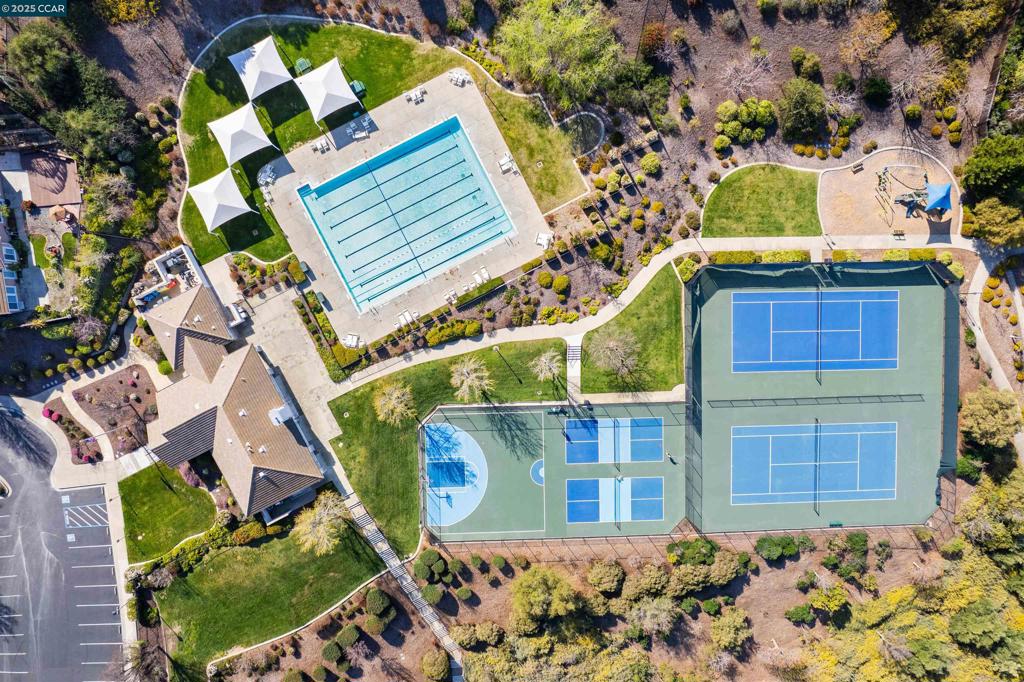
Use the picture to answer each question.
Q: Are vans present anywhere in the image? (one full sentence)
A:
No, there isn't any van down there.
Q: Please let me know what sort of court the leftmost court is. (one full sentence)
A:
The leftmost court in the image is a basketball court.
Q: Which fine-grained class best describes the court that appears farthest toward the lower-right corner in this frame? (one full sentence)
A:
The court that appears farthest toward the lower-right corner is a tennis court.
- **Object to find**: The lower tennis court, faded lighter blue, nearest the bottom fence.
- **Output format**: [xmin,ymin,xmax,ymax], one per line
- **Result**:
[731,419,897,516]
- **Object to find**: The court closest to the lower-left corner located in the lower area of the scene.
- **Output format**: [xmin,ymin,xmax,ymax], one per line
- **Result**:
[426,412,545,534]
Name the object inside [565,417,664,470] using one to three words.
sports court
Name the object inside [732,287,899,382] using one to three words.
tennis court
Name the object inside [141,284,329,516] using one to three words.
building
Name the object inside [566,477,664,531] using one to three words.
sports court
